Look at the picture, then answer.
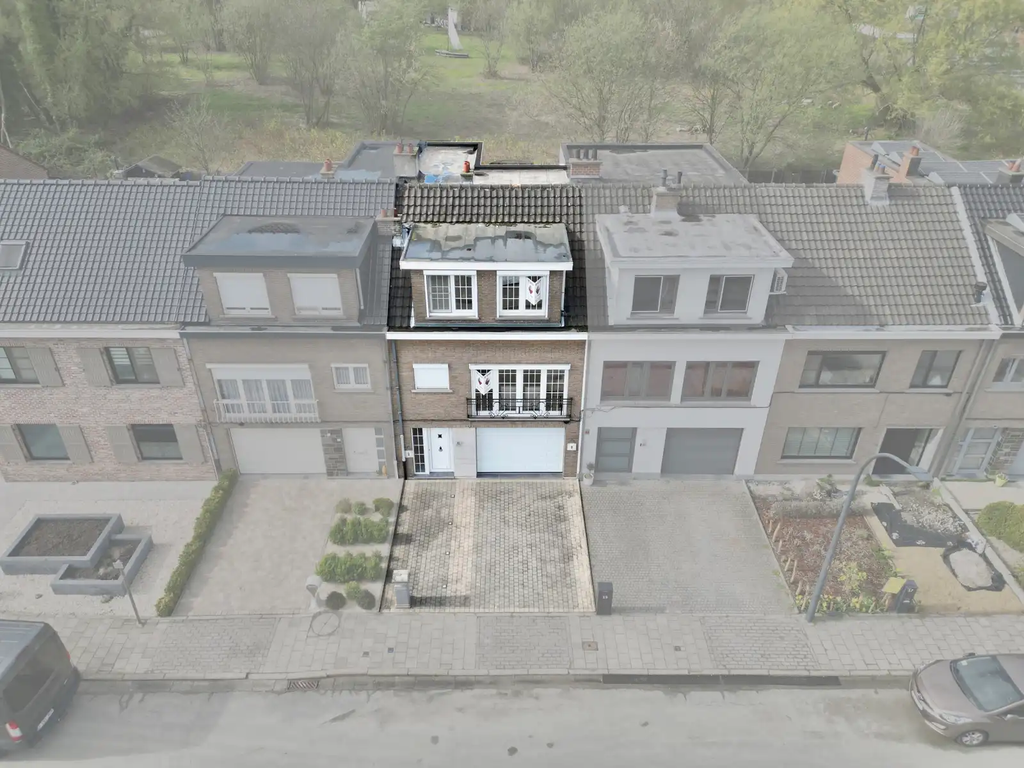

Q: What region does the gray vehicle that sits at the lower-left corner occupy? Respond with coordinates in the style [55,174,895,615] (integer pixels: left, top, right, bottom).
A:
[0,632,81,747]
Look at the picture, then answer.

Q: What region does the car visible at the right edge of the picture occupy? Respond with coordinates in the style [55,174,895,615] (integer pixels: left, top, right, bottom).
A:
[906,655,1024,748]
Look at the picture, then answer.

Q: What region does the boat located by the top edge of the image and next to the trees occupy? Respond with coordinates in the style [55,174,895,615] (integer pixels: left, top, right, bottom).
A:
[430,8,473,54]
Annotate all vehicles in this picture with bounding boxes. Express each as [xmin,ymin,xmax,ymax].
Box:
[0,632,81,747]
[906,655,1024,748]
